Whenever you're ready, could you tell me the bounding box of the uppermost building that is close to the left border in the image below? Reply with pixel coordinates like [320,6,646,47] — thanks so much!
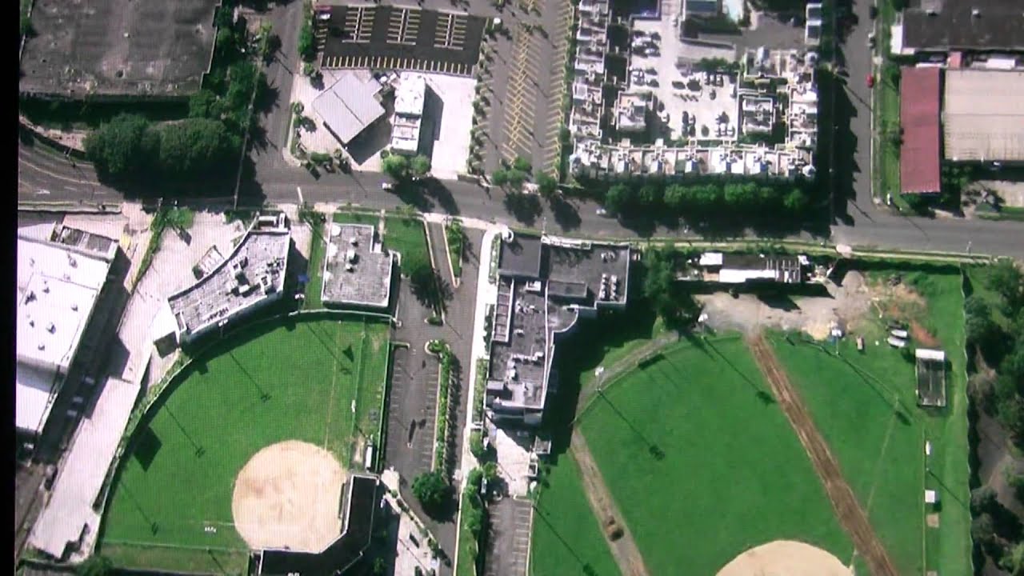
[18,0,222,101]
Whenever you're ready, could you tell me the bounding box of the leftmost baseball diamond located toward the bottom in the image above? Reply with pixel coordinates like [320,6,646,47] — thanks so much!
[95,314,390,576]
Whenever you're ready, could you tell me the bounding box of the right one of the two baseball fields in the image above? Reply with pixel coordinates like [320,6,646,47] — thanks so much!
[528,336,923,576]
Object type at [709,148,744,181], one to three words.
house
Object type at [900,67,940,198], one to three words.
shed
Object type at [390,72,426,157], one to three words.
building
